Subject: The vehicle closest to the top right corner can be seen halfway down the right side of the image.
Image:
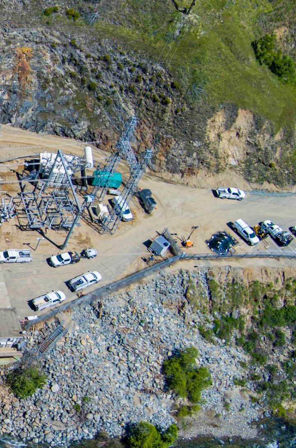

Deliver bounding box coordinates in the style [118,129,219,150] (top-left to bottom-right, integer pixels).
[214,188,247,203]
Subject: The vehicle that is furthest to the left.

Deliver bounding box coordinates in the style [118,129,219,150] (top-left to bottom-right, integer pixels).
[0,248,35,263]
